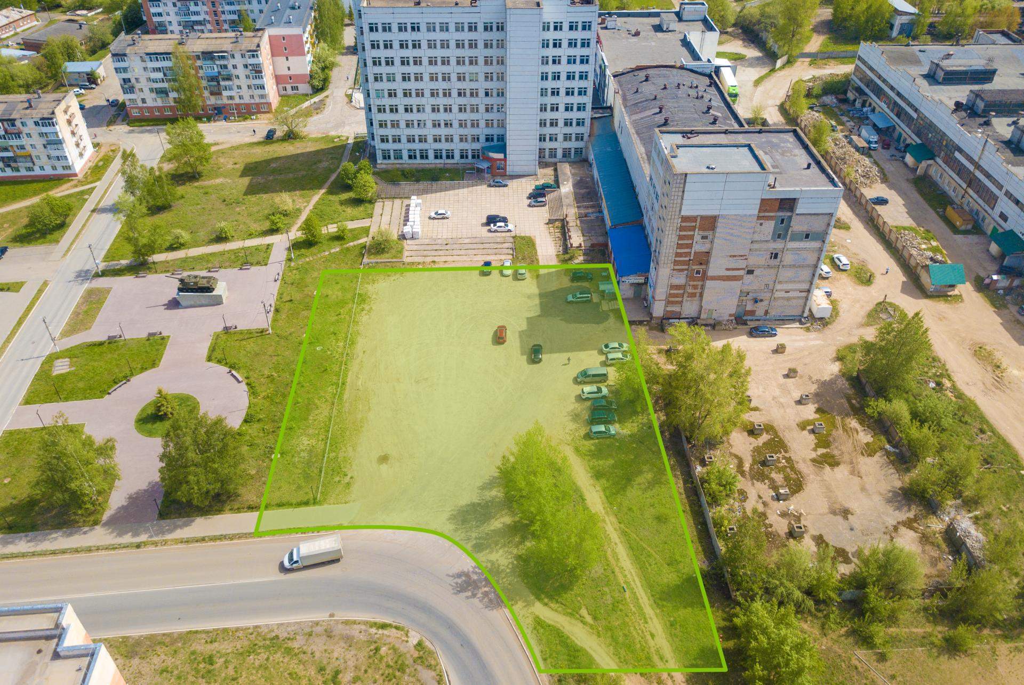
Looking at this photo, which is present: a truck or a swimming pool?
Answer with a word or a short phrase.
truck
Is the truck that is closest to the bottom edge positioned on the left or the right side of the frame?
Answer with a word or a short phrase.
left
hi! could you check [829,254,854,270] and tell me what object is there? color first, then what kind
white car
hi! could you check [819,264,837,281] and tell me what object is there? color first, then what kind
white car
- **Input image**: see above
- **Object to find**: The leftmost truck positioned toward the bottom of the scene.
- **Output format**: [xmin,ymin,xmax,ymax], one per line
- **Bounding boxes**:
[284,530,345,567]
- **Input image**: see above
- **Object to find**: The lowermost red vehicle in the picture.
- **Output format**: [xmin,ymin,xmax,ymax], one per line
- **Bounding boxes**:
[495,327,507,344]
